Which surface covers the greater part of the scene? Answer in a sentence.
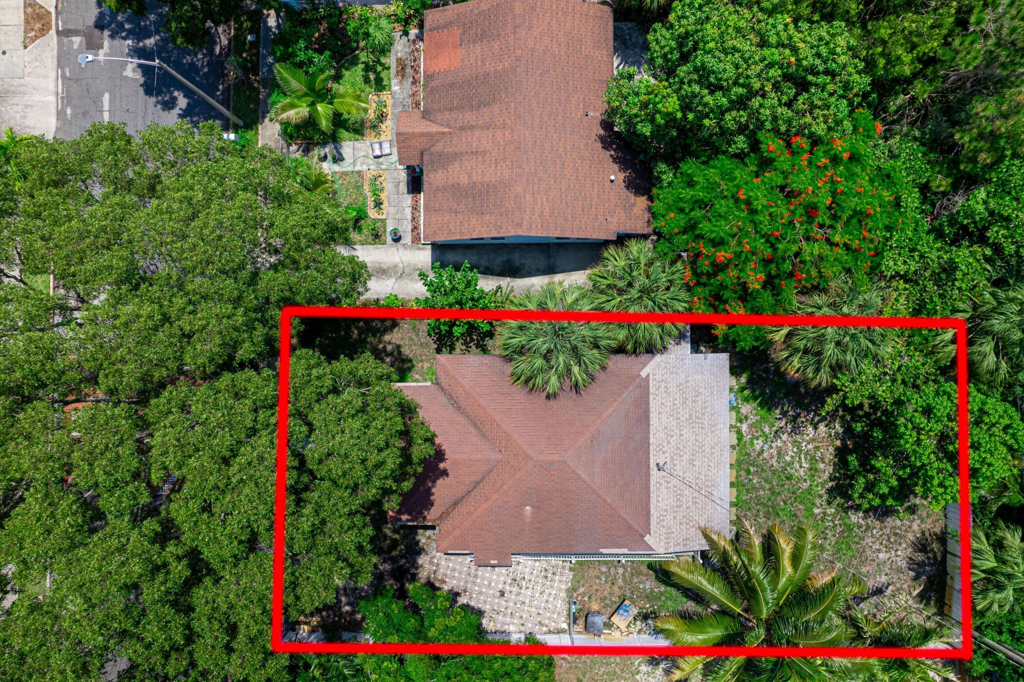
The largest share of the image is taken up by trees.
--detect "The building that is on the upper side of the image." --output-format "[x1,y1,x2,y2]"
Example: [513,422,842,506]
[395,0,653,245]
